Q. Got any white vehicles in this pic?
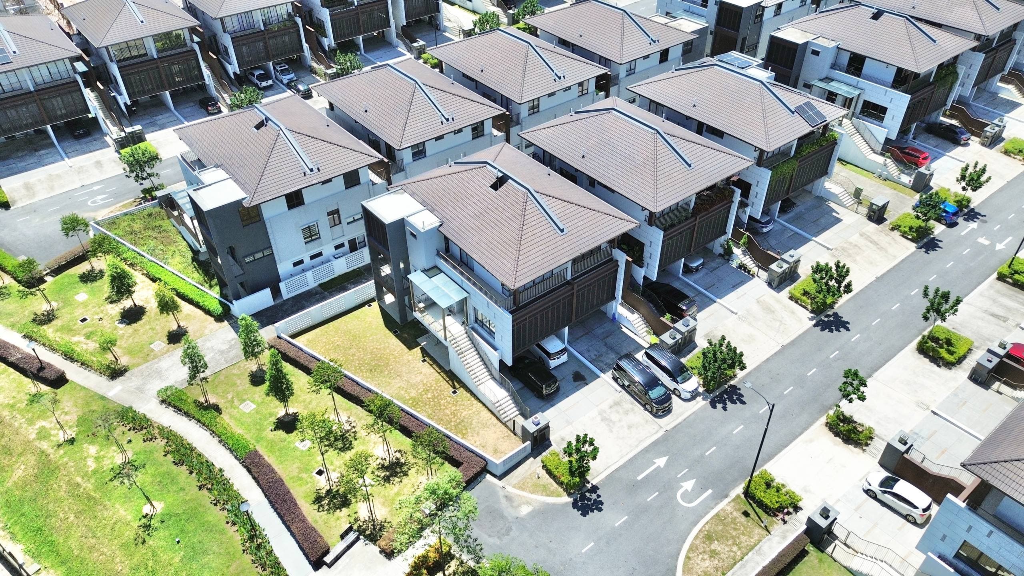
Yes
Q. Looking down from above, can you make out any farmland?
No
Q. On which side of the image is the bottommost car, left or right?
right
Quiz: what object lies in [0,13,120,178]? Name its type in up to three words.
house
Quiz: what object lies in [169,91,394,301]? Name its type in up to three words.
house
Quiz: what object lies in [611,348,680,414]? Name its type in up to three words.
car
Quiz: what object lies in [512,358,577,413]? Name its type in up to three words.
car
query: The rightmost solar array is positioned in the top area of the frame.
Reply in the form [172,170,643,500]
[785,86,826,117]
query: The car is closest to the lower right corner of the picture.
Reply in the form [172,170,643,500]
[859,468,941,528]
